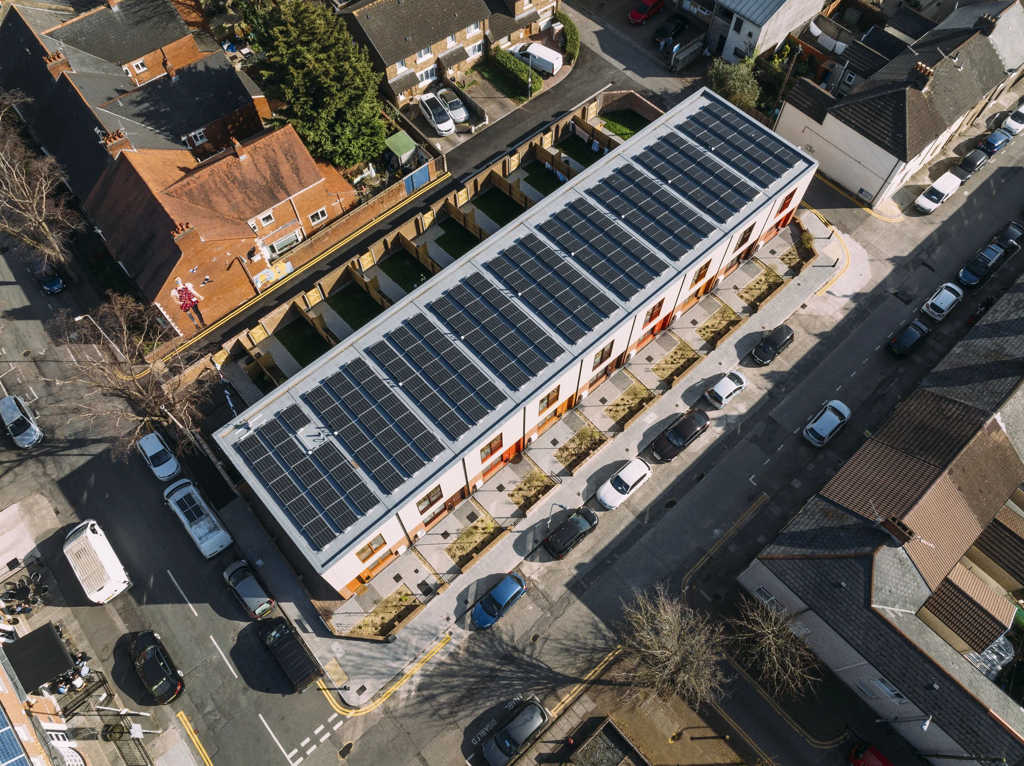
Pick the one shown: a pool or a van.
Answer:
van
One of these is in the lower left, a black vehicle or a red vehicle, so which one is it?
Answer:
black vehicle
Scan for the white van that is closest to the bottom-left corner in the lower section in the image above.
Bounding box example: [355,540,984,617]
[60,517,137,611]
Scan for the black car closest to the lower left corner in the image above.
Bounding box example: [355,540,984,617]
[127,623,189,711]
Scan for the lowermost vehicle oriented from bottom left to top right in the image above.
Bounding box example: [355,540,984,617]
[473,688,553,766]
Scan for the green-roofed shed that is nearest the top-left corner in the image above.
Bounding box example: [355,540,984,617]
[384,129,419,174]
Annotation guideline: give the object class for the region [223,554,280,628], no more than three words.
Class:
car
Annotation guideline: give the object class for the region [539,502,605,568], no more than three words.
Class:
car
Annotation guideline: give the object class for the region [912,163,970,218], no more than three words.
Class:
van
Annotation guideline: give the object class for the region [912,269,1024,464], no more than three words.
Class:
house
